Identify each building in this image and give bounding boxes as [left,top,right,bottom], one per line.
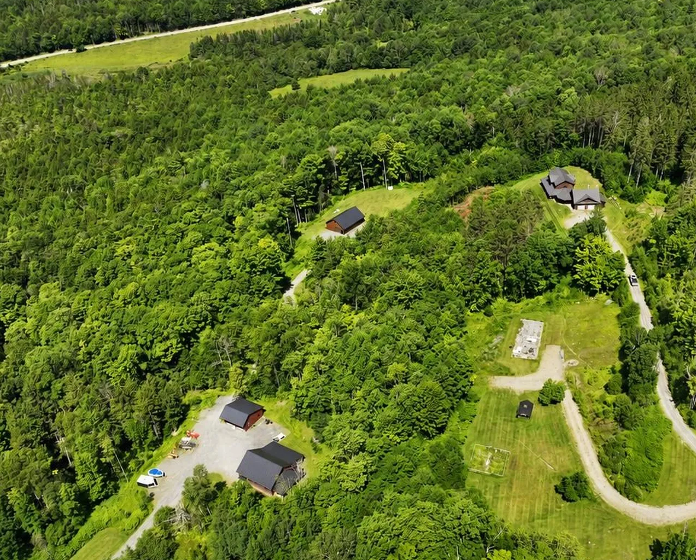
[236,441,305,497]
[518,401,532,423]
[327,207,365,236]
[540,172,607,210]
[218,399,265,436]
